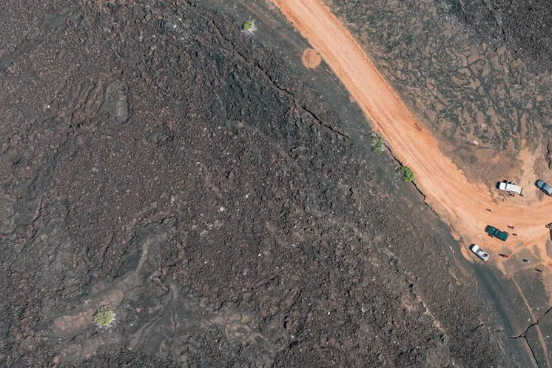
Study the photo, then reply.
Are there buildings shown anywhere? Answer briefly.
No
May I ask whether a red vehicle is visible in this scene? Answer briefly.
No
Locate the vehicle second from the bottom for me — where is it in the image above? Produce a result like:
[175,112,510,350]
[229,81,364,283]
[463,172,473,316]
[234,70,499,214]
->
[487,226,509,242]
